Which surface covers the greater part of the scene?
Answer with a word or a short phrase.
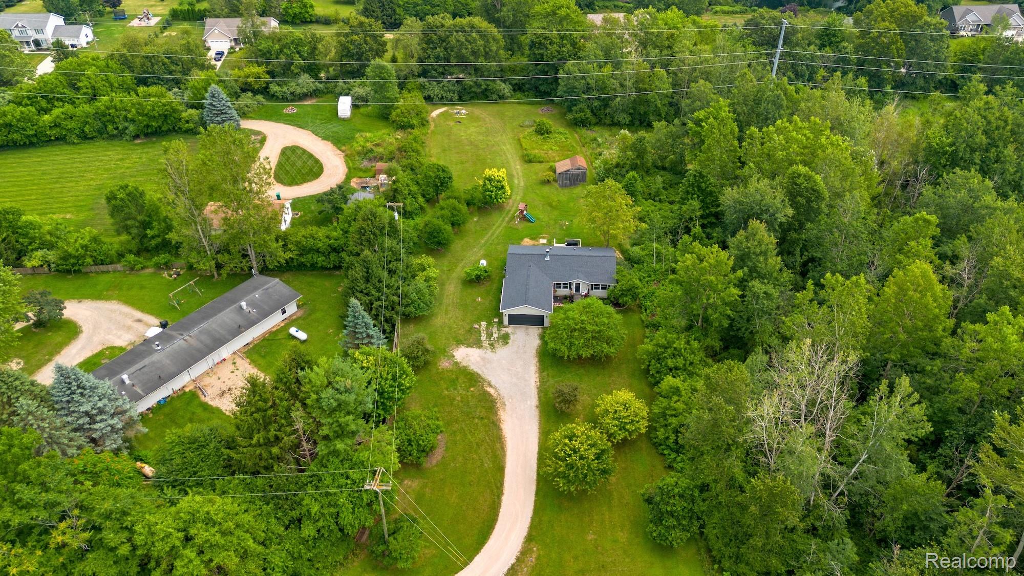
trees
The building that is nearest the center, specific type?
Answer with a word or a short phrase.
home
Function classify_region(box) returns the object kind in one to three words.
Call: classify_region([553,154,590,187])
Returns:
barn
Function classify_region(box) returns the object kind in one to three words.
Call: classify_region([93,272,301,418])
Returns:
house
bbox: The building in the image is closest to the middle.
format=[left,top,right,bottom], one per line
[500,238,616,328]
